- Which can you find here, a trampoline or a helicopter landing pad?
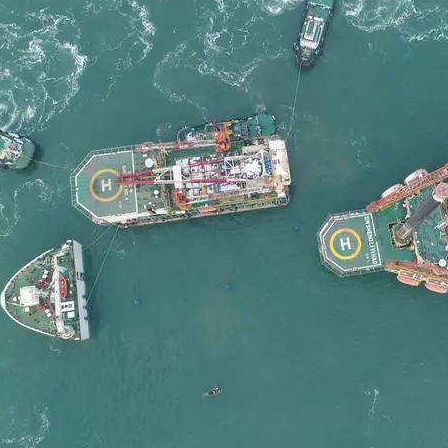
helicopter landing pad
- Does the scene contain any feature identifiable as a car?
No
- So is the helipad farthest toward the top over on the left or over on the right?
left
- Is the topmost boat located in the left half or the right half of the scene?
right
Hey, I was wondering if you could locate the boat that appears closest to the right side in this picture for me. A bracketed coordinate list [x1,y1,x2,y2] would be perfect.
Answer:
[424,280,448,294]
